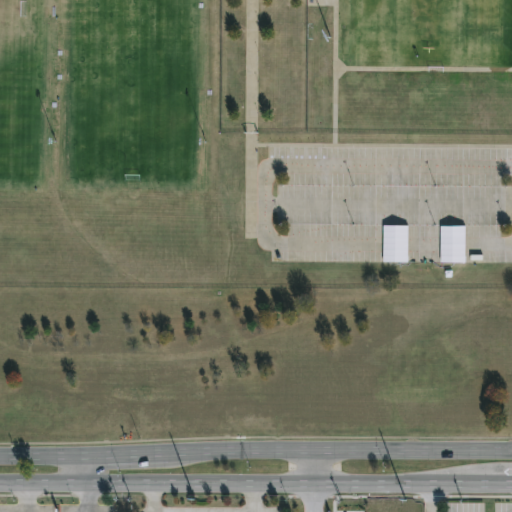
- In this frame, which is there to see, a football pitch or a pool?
football pitch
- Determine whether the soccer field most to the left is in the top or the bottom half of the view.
top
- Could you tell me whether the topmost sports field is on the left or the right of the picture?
right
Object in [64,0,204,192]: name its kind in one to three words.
soccer field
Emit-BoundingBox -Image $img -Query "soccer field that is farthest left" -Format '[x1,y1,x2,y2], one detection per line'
[0,0,48,192]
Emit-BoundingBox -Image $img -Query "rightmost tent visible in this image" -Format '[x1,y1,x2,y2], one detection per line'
[440,226,466,263]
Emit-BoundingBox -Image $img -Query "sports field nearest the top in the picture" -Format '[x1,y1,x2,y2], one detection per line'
[338,0,512,66]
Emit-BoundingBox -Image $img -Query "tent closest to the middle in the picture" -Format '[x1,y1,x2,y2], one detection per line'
[383,225,409,262]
